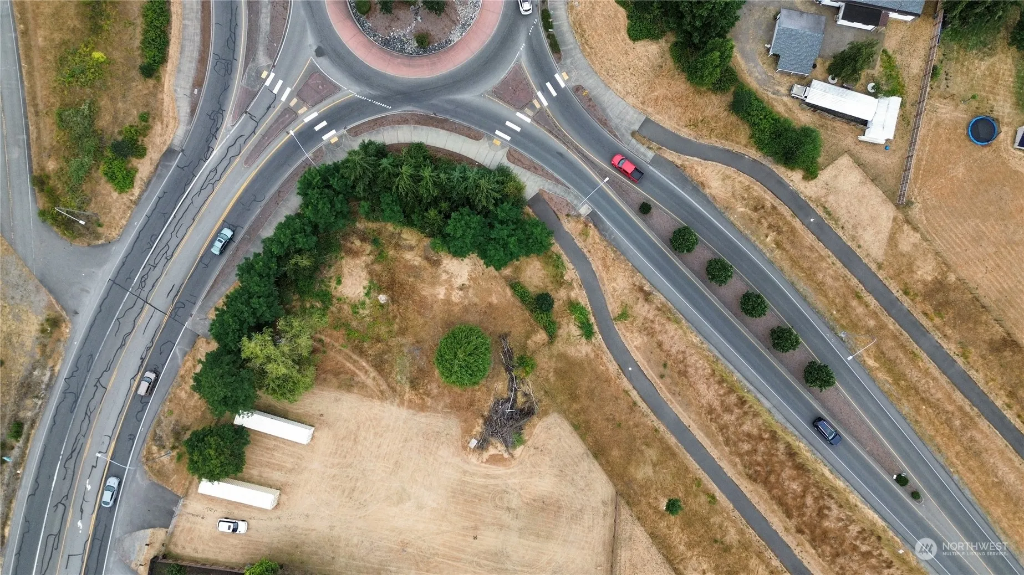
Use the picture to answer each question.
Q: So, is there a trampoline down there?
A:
Yes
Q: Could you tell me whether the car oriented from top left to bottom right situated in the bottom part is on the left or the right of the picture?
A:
right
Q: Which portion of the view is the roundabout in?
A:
top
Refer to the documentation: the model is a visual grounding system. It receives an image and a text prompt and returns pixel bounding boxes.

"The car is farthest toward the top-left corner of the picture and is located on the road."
[211,228,234,255]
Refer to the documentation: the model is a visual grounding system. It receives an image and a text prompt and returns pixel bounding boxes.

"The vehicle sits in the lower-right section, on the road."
[812,415,841,446]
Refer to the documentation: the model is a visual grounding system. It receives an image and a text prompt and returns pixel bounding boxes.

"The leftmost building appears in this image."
[768,8,825,82]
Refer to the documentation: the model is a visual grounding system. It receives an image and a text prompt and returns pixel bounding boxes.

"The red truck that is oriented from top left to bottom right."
[612,154,644,182]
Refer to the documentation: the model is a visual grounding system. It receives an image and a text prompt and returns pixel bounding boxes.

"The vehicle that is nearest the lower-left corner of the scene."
[102,475,122,508]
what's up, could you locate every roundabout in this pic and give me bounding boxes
[291,0,538,111]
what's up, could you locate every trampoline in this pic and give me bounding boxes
[967,113,1004,147]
